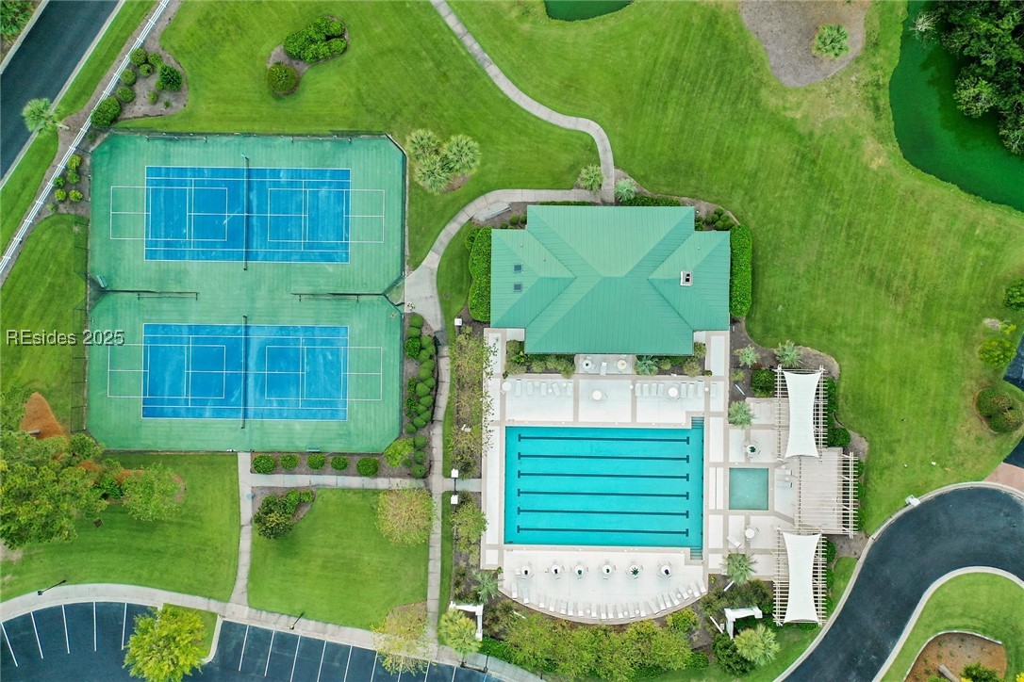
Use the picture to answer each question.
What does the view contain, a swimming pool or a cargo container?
swimming pool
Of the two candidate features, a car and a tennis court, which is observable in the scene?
tennis court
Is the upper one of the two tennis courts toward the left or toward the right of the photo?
left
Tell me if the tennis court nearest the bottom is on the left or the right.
left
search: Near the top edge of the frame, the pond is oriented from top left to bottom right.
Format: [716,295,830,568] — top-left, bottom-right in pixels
[889,0,1024,212]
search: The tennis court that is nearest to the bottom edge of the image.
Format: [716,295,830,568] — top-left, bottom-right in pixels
[87,291,399,453]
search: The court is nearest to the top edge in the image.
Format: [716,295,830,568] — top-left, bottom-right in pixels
[88,135,404,293]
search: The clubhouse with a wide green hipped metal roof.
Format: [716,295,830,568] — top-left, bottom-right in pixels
[490,204,731,356]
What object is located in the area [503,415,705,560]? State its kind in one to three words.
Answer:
swimming pool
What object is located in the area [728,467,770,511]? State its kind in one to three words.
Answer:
swimming pool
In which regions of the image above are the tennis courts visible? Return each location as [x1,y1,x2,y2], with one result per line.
[87,291,399,453]
[88,135,404,293]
